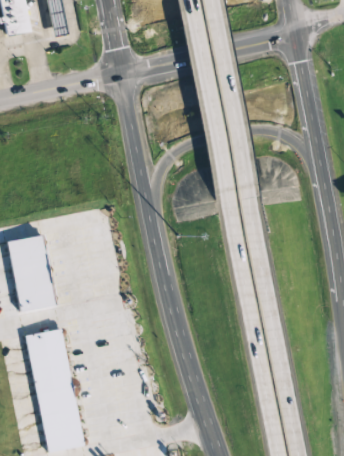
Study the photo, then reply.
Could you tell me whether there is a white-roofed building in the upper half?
Yes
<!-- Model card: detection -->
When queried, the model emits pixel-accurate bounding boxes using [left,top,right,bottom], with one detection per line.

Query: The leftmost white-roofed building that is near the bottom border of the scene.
[25,329,84,453]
